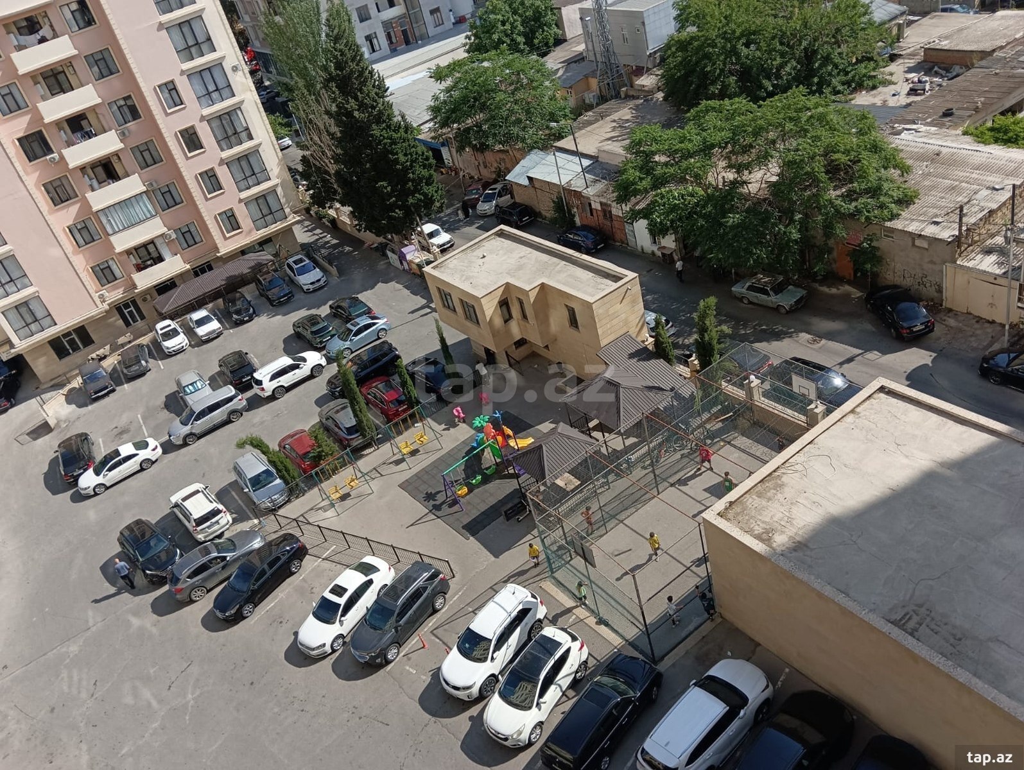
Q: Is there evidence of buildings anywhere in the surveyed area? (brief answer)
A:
Yes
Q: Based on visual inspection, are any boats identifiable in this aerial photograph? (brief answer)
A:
No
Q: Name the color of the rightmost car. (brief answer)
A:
black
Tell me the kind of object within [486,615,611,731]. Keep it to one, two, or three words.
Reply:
car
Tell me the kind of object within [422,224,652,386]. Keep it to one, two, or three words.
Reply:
building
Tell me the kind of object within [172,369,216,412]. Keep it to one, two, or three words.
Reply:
car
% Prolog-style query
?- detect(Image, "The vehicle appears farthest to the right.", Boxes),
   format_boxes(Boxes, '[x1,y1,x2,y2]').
[958,345,1024,392]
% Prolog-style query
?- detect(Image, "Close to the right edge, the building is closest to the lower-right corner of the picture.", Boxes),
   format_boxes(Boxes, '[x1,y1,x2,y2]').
[700,378,1024,770]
